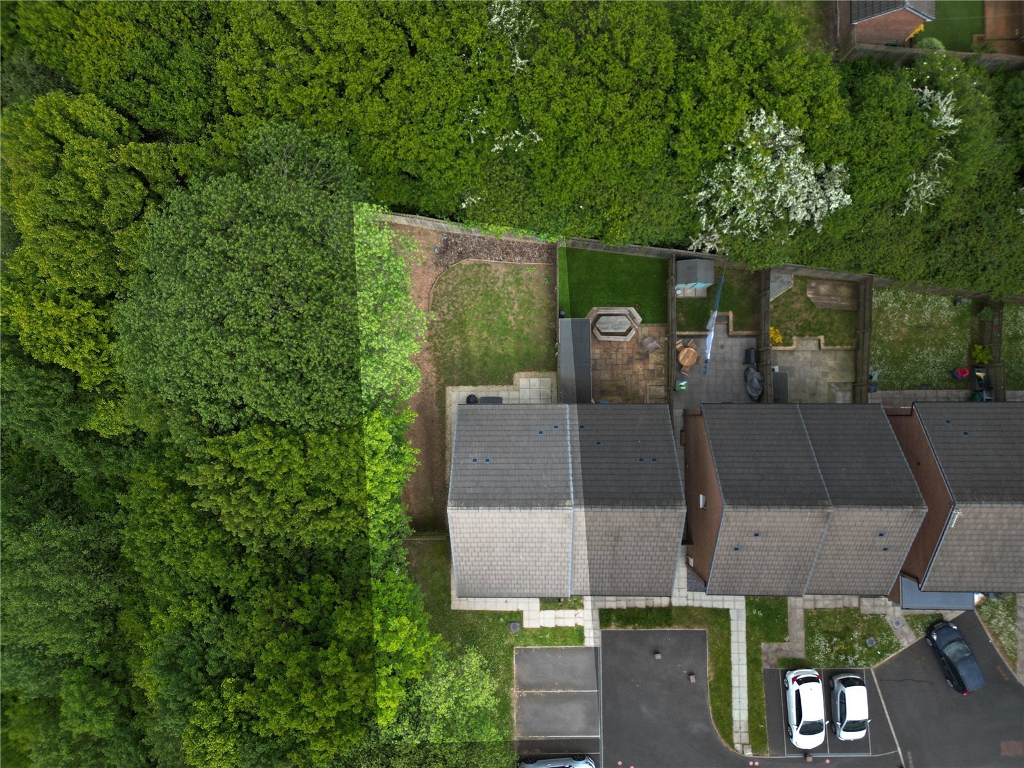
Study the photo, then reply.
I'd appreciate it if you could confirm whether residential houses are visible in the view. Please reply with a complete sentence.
Yes, this view includes a residential house.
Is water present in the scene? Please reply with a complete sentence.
No, the scene doesn't show any water.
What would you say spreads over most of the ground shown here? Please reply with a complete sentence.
Most of the picture is covered by trees.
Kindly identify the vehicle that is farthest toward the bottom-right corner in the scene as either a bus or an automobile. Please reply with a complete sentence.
I'd identify the vehicle that is farthest toward the bottom-right corner as an automobile.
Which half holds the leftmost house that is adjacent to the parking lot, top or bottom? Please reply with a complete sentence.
The leftmost house that is adjacent to the parking lot is in the bottom half of the image.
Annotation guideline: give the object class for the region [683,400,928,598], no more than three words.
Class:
house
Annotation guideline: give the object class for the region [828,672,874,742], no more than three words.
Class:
car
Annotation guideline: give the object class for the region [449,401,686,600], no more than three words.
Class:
house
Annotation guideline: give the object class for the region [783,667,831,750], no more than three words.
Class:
car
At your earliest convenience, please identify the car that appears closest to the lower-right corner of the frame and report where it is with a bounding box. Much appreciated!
[924,618,990,701]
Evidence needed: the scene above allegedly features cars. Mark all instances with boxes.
[924,618,990,701]
[783,667,831,750]
[516,755,595,768]
[828,672,874,742]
